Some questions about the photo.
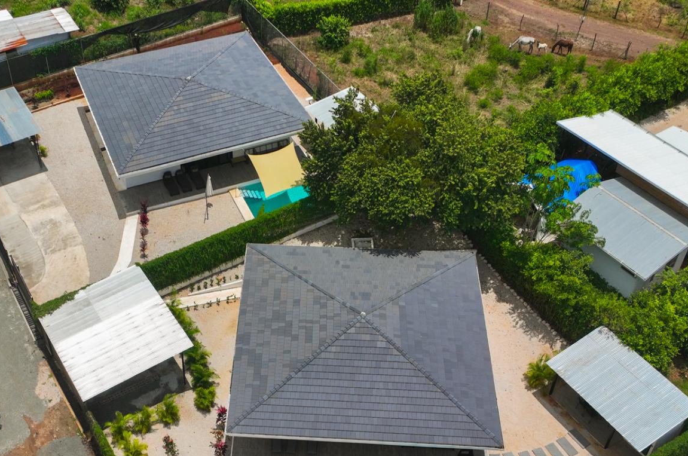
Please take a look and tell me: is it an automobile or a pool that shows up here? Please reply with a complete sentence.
This aerial view contains a pool.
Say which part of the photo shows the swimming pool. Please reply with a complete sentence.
You can find the swimming pool in the center area of the picture.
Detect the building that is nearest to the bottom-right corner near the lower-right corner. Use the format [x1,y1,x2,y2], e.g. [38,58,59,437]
[548,326,688,456]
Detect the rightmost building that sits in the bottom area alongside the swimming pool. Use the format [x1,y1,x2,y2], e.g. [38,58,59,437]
[226,242,504,456]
